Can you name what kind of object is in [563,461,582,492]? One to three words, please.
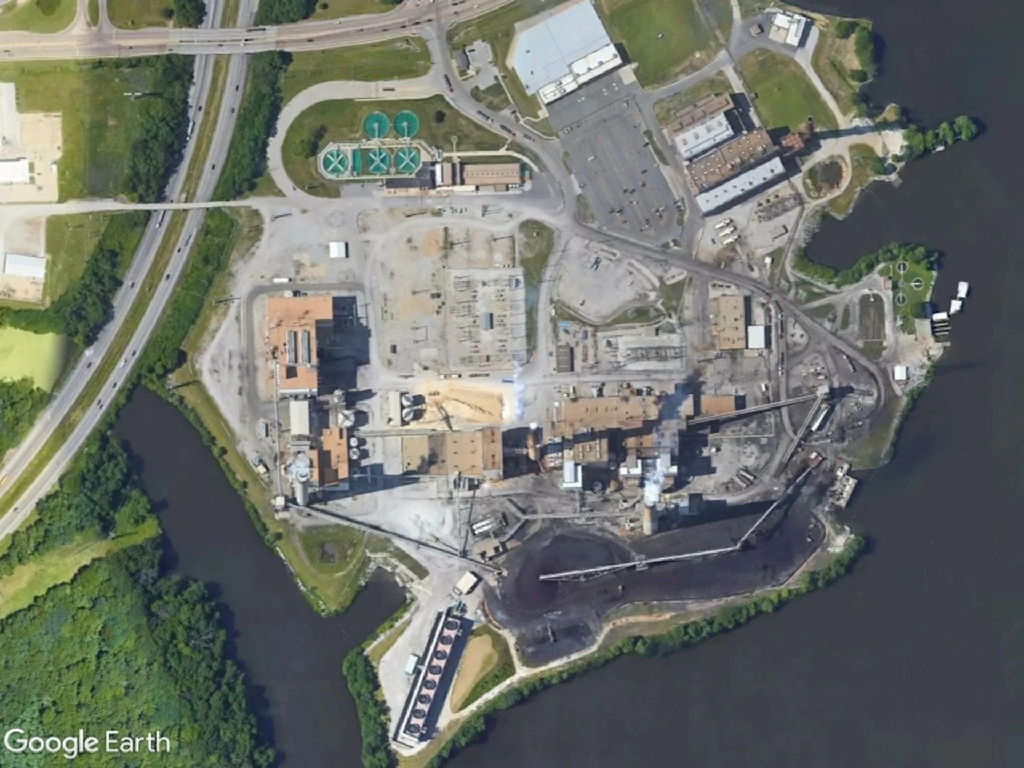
building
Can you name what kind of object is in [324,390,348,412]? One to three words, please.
silo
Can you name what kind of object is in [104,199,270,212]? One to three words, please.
bridge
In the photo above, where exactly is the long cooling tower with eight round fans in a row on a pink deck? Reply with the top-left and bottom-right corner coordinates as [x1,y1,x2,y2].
[392,613,463,750]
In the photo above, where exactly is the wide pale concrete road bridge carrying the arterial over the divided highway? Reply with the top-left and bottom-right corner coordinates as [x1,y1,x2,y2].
[167,24,277,55]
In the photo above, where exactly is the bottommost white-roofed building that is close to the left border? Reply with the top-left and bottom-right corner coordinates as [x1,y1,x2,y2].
[4,253,45,279]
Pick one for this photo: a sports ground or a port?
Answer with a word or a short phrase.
port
